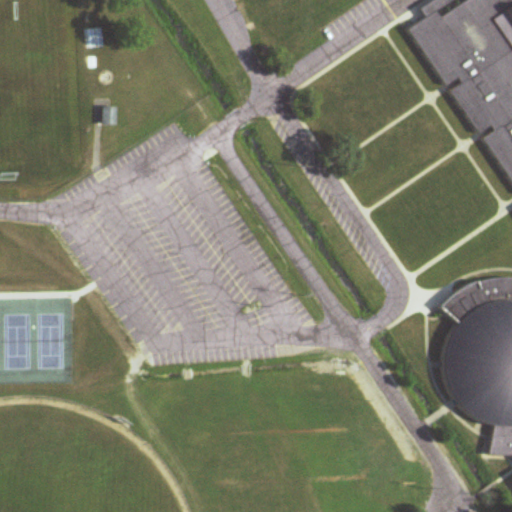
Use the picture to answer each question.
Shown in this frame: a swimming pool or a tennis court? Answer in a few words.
tennis court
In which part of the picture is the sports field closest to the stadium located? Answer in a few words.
bottom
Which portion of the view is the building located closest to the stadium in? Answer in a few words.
top right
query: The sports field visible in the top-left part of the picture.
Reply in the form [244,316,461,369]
[0,0,78,196]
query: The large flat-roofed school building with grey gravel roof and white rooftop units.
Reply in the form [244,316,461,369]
[410,0,512,180]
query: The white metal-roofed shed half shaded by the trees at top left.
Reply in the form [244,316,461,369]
[84,28,102,48]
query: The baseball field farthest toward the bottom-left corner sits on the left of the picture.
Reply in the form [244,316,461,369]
[0,398,188,512]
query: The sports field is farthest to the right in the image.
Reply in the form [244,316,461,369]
[143,376,424,512]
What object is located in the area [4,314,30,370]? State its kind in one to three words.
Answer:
tennis court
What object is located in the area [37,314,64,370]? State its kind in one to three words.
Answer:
tennis court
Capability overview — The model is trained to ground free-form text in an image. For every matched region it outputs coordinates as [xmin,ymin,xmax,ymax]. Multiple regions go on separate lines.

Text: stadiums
[442,276,512,456]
